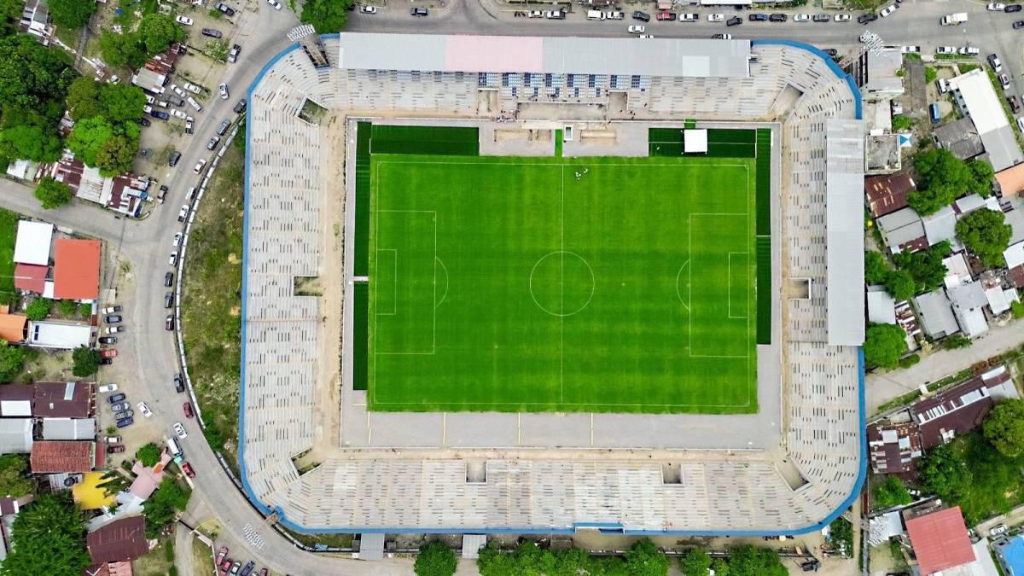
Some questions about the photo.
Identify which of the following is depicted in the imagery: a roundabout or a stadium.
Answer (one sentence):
The image shows a stadium.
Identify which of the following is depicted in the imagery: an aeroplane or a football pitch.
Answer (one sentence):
Visible in the photo is a football pitch.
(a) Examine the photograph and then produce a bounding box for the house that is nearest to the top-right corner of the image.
[949,72,1008,135]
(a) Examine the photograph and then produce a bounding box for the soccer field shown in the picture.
[367,154,758,414]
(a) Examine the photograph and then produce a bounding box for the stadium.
[238,31,867,535]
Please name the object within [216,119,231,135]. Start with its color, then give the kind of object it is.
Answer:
gray car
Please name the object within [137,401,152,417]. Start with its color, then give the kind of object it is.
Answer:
white car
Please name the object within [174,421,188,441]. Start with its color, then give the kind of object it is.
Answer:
white vehicle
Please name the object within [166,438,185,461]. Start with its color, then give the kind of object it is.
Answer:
white vehicle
